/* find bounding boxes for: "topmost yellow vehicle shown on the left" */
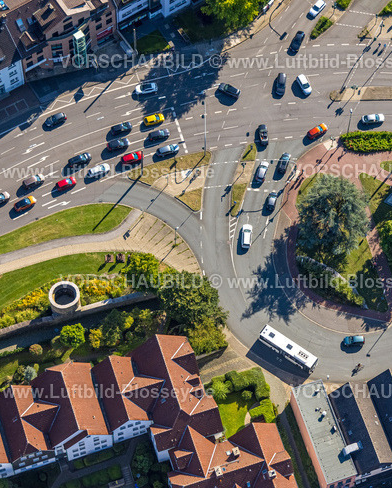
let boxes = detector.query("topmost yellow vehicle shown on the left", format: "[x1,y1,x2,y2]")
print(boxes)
[143,113,165,126]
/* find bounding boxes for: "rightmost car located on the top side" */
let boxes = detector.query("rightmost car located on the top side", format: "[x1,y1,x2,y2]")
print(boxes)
[361,112,384,124]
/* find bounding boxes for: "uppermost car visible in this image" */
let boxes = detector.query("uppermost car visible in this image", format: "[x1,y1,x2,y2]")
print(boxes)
[309,0,326,17]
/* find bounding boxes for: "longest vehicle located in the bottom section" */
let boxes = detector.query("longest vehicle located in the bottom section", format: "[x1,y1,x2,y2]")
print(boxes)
[258,324,319,375]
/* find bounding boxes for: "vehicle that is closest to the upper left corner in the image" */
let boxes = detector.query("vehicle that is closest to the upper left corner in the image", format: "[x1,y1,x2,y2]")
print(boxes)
[44,113,67,129]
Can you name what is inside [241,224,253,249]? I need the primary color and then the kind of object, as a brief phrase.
white vehicle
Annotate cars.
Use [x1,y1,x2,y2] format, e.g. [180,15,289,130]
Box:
[255,162,269,184]
[309,0,326,17]
[290,30,304,53]
[135,82,158,96]
[216,83,242,100]
[23,174,45,189]
[275,73,286,96]
[257,126,268,147]
[241,224,253,249]
[85,163,111,179]
[13,196,36,212]
[143,113,165,126]
[147,128,171,142]
[343,335,365,347]
[296,75,311,95]
[106,137,130,151]
[53,176,77,193]
[67,152,92,168]
[306,124,327,139]
[266,192,278,213]
[44,113,67,129]
[110,122,133,136]
[0,190,11,204]
[120,150,144,164]
[156,142,180,156]
[361,112,384,124]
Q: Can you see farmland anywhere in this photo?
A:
No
